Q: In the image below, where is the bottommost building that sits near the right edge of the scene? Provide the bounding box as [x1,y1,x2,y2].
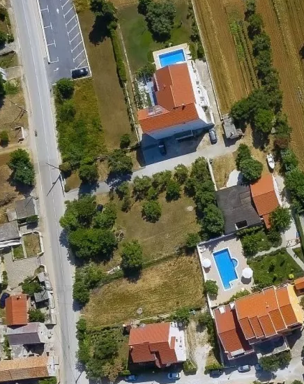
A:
[214,284,304,357]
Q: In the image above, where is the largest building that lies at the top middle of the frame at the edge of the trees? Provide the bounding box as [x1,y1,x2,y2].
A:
[137,65,218,140]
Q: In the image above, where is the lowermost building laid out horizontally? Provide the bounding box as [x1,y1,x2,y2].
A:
[0,356,59,382]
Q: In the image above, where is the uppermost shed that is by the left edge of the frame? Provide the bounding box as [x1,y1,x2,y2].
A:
[8,197,43,221]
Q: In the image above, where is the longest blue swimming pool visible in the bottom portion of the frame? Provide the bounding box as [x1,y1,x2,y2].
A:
[212,247,239,292]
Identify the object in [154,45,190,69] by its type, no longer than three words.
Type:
swimming pool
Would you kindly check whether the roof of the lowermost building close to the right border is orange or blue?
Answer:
orange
